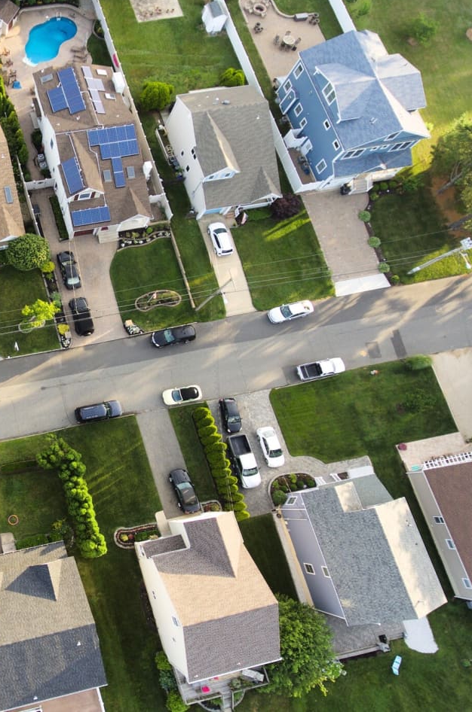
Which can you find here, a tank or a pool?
pool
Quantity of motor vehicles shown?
twelve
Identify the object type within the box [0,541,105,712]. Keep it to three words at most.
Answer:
house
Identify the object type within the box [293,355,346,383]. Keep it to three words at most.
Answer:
truck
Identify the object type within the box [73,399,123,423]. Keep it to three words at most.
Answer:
car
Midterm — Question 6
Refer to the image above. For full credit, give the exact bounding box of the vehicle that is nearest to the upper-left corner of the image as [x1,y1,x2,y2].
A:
[56,251,80,291]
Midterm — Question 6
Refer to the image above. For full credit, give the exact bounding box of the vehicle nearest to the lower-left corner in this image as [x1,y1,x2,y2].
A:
[167,467,200,516]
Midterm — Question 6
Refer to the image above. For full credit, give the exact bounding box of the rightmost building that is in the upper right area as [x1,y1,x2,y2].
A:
[283,19,428,200]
